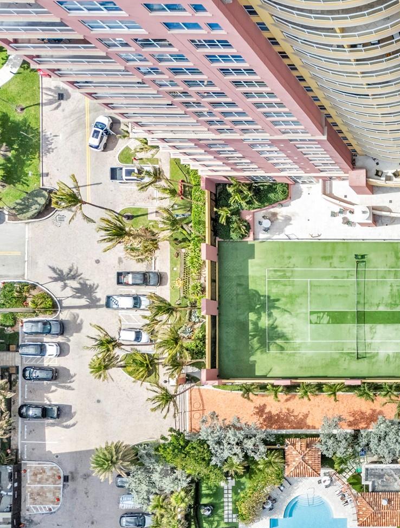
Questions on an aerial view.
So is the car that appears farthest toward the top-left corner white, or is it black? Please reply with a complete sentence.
The car that appears farthest toward the top-left corner is white.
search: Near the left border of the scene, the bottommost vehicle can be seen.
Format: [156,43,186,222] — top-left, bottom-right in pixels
[18,402,63,421]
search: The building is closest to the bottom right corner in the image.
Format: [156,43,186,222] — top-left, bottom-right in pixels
[358,491,400,528]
